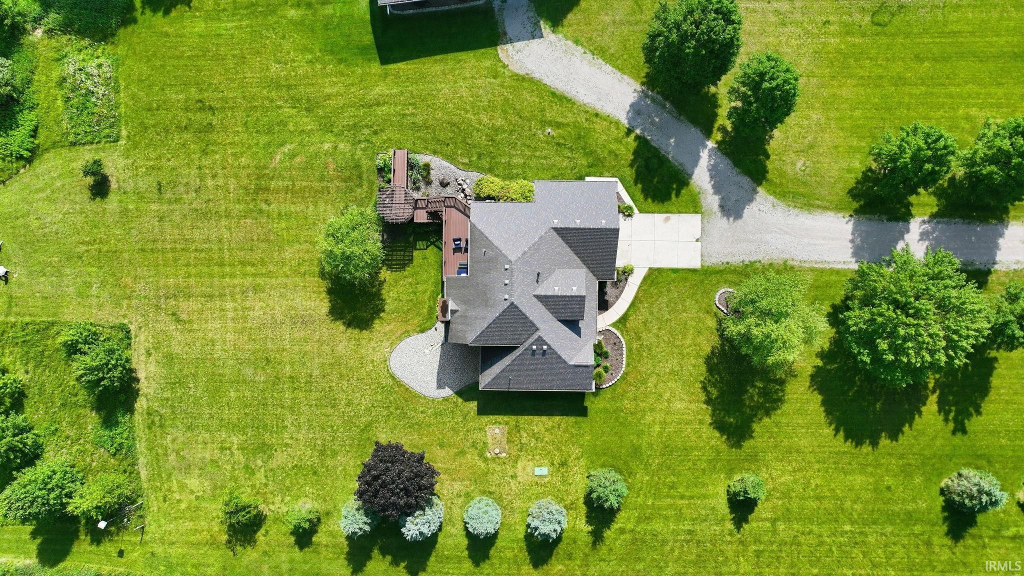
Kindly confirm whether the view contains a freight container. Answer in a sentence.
No, the picture doesn't show any freight container.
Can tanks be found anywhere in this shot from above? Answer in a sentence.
No, the photo shows no tank.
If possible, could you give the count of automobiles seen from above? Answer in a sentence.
The count of automobiles is 0.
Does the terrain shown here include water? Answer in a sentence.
No, the scene doesn't show any water.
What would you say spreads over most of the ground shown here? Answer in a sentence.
Most of the picture is covered by grass.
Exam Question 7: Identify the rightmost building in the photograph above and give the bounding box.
[437,179,622,392]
